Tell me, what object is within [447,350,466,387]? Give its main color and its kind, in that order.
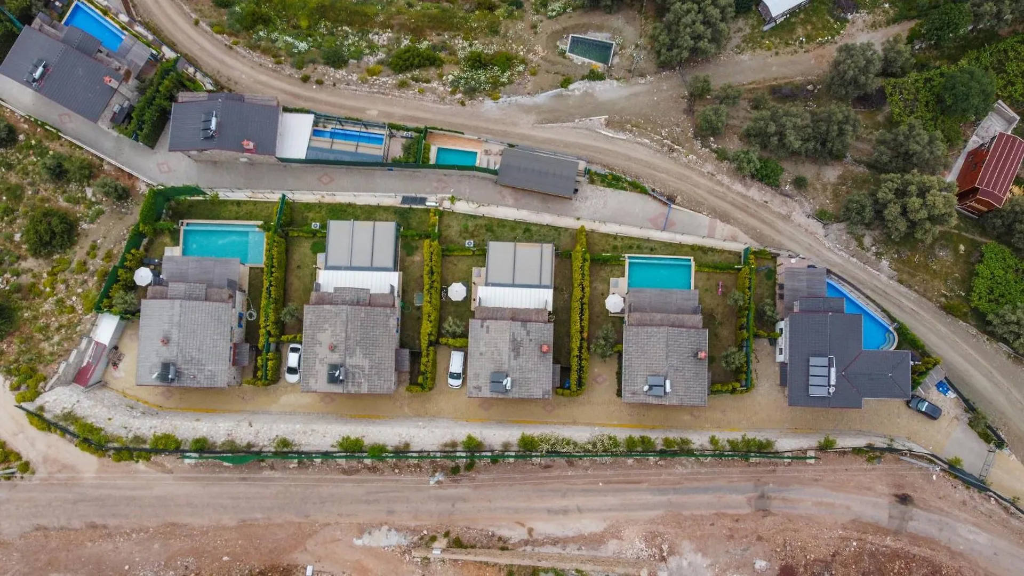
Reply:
white car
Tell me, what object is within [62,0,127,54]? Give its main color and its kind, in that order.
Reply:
blue swimming pool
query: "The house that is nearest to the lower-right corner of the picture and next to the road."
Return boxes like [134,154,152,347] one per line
[773,297,912,409]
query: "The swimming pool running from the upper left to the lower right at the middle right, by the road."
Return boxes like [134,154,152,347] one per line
[826,280,899,350]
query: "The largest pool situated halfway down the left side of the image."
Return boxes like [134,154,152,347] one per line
[180,220,267,267]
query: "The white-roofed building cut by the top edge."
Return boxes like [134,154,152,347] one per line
[748,0,811,30]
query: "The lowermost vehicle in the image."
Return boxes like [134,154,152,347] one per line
[904,394,943,421]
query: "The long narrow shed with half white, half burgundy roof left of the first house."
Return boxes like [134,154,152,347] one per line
[67,313,121,387]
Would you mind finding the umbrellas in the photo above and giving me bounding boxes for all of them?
[605,294,623,312]
[136,267,157,285]
[448,282,466,300]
